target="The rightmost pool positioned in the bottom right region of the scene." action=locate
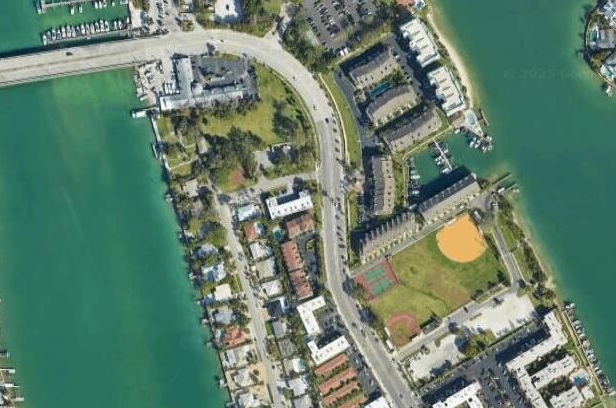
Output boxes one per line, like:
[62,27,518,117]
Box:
[566,367,589,388]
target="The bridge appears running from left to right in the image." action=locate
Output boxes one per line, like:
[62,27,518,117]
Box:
[0,40,123,86]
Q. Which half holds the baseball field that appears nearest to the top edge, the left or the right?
right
